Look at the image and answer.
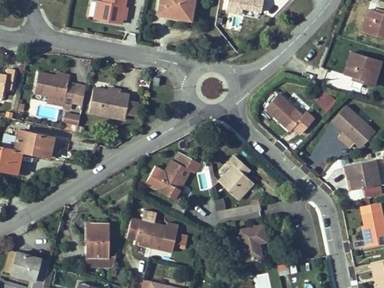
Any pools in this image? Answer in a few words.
Yes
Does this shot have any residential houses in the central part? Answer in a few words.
Yes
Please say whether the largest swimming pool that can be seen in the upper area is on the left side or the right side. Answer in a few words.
left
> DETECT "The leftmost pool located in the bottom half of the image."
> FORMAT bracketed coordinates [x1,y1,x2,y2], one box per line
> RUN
[197,164,211,190]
